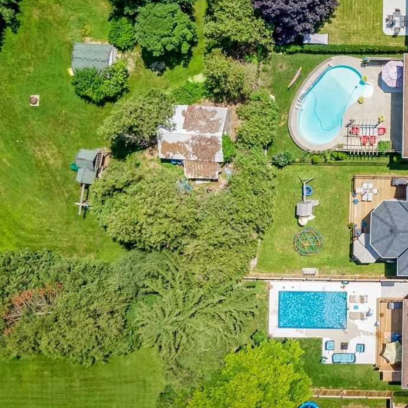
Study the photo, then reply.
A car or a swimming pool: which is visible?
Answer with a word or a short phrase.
swimming pool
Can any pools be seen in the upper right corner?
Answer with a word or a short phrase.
Yes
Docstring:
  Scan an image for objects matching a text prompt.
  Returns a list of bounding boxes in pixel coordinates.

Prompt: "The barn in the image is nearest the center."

[158,105,233,179]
